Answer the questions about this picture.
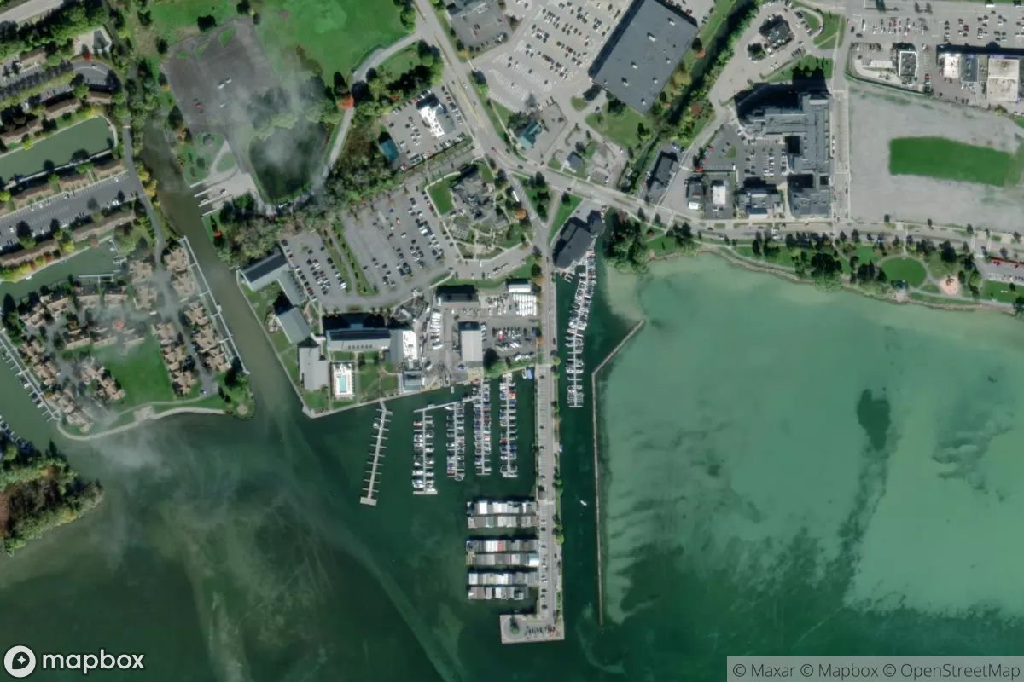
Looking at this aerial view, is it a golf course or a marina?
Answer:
marina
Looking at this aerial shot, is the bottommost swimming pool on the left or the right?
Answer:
left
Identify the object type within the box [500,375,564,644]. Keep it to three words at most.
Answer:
pier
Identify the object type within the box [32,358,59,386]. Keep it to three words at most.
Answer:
house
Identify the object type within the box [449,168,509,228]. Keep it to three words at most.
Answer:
building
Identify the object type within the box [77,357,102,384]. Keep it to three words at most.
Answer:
house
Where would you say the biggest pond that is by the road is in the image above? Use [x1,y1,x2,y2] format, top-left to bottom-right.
[248,120,333,203]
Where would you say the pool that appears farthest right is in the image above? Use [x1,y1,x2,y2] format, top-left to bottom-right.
[332,361,355,397]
